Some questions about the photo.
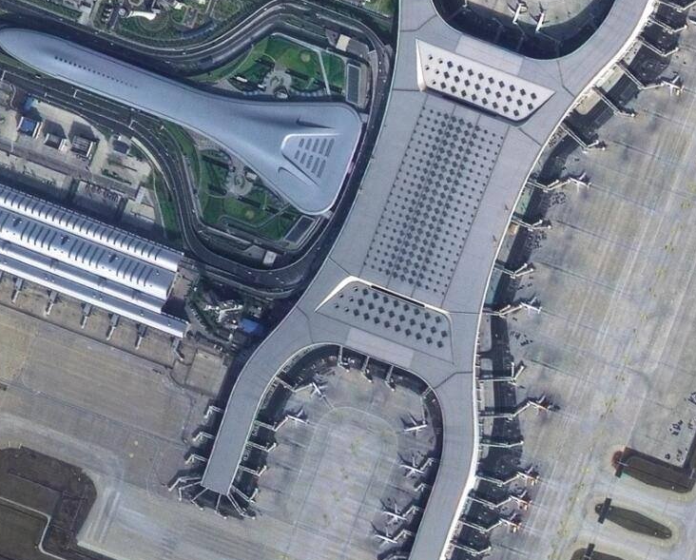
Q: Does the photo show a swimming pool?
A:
No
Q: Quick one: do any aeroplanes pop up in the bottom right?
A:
Yes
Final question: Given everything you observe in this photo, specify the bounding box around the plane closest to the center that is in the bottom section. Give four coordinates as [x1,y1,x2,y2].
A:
[313,381,327,401]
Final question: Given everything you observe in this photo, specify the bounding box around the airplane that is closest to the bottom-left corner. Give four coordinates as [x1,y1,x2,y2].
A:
[287,410,309,431]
